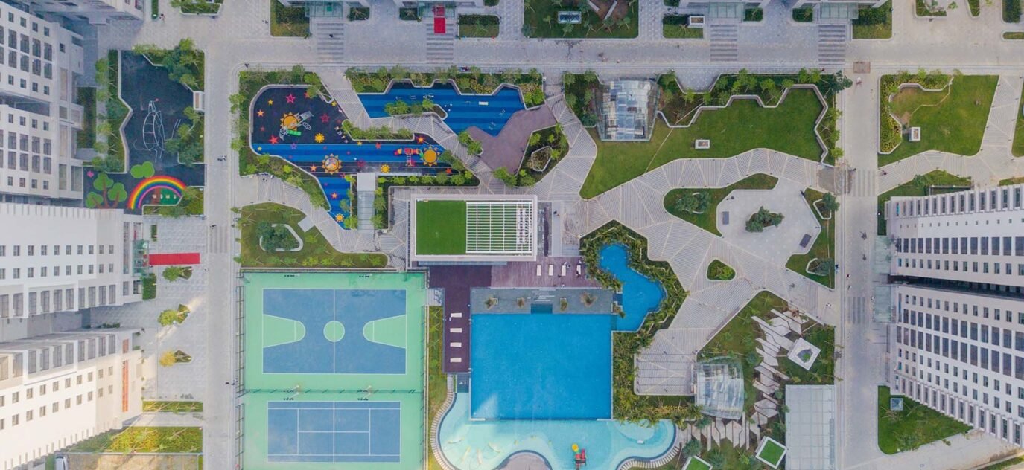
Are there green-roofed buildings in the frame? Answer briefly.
Yes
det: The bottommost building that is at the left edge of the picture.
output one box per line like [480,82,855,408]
[0,323,142,470]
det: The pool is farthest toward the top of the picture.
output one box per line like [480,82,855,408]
[599,243,667,332]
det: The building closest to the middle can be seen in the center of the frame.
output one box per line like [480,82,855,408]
[411,195,537,265]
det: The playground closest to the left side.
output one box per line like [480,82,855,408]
[83,50,204,216]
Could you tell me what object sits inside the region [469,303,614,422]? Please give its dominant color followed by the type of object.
blue swimming pool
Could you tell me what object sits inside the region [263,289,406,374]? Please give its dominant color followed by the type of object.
blue basketball court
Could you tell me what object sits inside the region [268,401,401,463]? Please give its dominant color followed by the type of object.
blue tennis court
